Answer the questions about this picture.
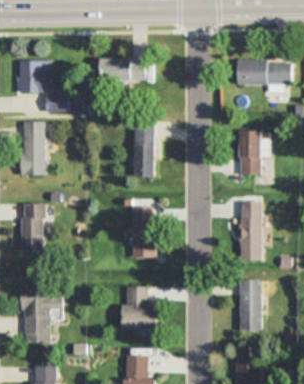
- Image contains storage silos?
No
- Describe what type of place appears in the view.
residential area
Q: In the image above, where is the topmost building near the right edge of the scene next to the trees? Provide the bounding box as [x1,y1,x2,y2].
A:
[234,59,293,86]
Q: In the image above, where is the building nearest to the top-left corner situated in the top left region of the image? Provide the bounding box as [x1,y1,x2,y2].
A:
[18,60,73,114]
